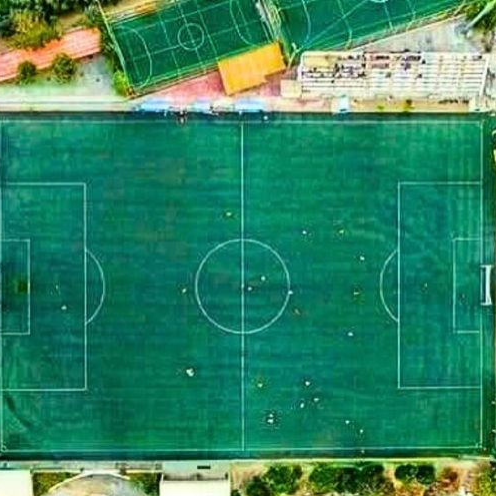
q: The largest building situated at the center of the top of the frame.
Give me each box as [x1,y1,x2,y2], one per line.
[218,41,285,98]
